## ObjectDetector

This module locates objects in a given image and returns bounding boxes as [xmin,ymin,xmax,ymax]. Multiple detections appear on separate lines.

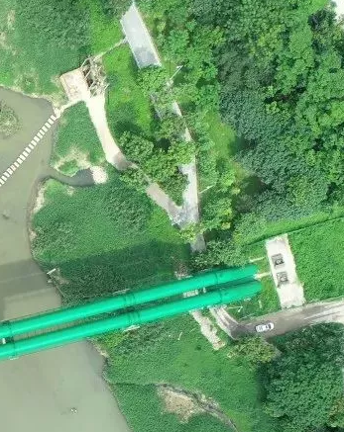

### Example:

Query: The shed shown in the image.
[120,2,161,69]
